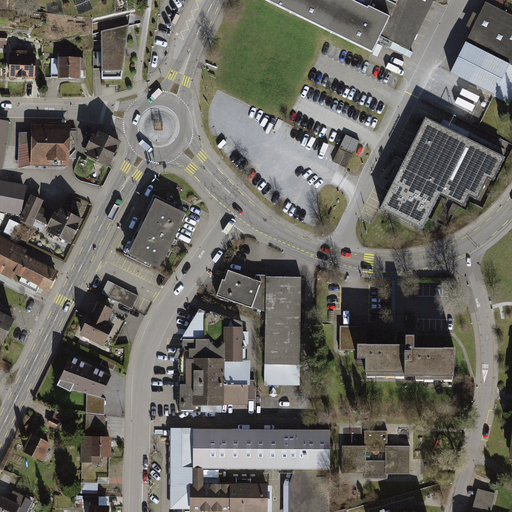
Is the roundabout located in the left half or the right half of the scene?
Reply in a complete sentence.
The roundabout sits on the left side.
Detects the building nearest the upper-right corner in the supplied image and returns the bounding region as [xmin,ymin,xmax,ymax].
[467,1,512,66]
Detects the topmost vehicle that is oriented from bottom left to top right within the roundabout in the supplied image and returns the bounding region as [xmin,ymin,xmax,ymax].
[146,87,164,105]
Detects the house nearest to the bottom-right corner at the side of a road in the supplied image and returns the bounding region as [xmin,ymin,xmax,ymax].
[473,488,495,510]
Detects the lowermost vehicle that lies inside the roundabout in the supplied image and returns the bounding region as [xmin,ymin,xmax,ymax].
[139,140,154,154]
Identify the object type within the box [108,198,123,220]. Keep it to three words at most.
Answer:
vehicle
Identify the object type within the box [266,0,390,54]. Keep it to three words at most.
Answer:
building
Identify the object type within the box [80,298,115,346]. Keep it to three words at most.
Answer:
house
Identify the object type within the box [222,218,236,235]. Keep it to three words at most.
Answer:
vehicle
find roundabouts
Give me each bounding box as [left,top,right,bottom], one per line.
[119,86,198,166]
